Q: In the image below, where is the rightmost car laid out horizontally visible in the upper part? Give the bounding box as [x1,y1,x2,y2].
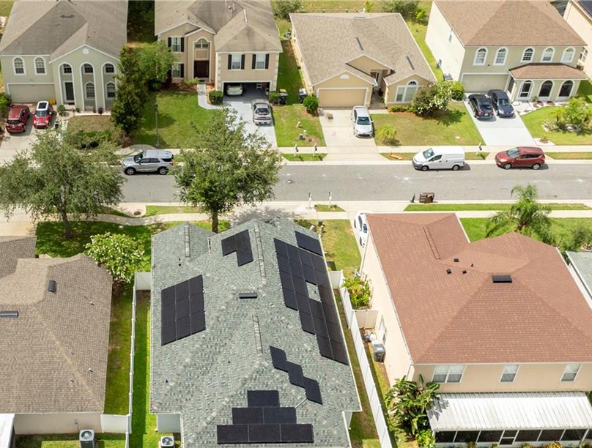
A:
[494,144,548,170]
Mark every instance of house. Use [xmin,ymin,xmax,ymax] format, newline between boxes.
[424,0,589,117]
[149,214,363,448]
[290,11,436,112]
[155,0,284,117]
[0,237,113,448]
[0,0,129,142]
[363,213,592,448]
